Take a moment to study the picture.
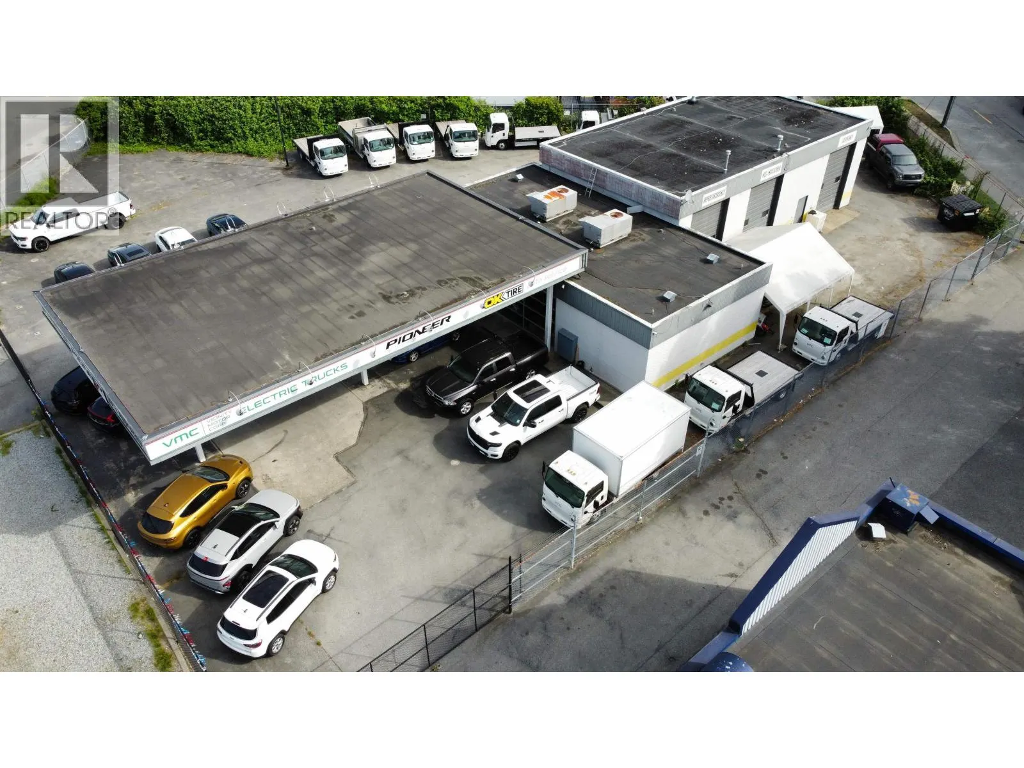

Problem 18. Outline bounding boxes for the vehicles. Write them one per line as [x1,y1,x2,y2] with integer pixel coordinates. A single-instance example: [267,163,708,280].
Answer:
[160,229,201,251]
[543,382,694,527]
[684,351,803,432]
[216,545,338,664]
[92,394,127,430]
[51,360,102,412]
[297,132,351,172]
[51,258,96,286]
[108,243,153,269]
[208,213,249,238]
[430,117,482,154]
[344,113,401,163]
[4,194,136,251]
[184,493,301,597]
[389,118,438,156]
[458,364,602,463]
[415,328,549,416]
[573,110,612,136]
[795,296,895,363]
[136,459,252,554]
[483,115,557,151]
[861,135,923,188]
[392,326,466,361]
